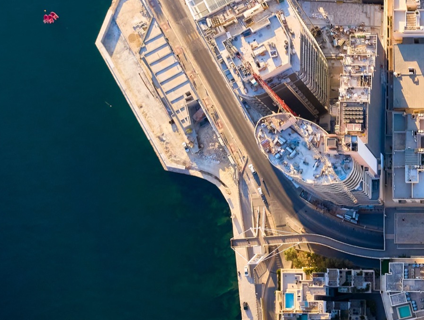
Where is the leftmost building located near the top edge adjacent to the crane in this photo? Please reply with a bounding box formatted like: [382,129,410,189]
[196,0,330,114]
